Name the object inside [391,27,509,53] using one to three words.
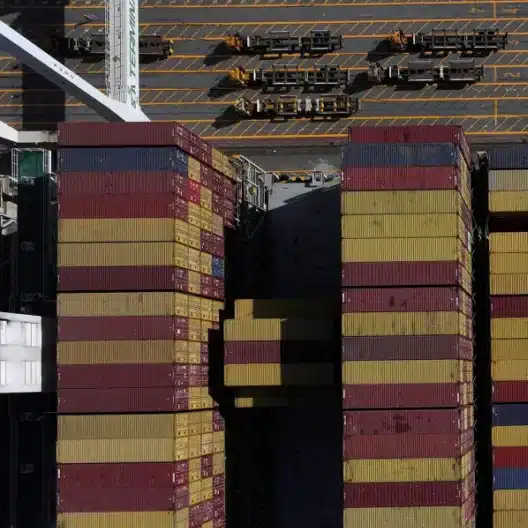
truck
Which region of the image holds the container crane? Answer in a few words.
top left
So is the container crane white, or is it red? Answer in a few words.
white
